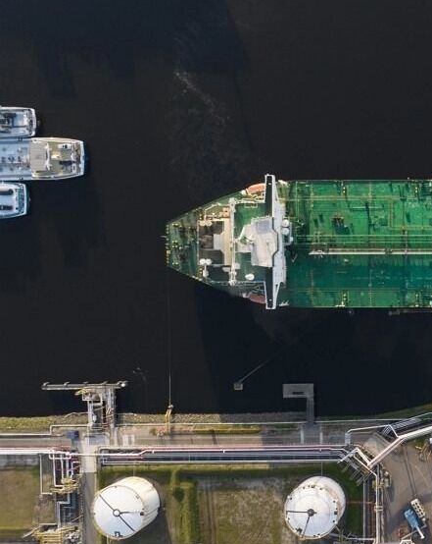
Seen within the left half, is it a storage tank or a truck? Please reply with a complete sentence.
What appears within the left half is a storage tank.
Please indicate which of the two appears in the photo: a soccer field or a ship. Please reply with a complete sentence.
This aerial view contains a ship.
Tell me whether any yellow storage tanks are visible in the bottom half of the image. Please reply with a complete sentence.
No, no yellow storage tank appears in the bottom half of the image.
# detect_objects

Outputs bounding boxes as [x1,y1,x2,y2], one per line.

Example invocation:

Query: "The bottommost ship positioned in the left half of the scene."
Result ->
[0,182,31,216]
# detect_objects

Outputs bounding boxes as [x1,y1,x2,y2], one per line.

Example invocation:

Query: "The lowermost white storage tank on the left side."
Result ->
[89,476,159,539]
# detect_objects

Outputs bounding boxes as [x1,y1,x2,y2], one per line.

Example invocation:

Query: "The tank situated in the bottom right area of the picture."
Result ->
[284,477,345,540]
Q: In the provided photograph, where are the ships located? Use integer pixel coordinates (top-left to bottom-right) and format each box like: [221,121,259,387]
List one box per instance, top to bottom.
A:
[0,106,39,137]
[0,137,88,180]
[166,173,432,313]
[0,182,31,216]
